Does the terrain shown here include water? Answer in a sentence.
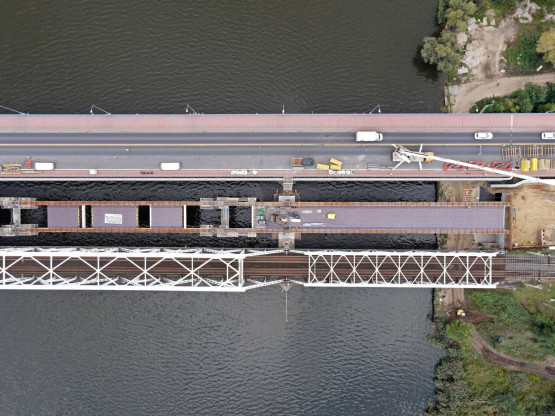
Yes, there's water in this view.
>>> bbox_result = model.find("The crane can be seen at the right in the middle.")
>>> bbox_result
[389,143,555,186]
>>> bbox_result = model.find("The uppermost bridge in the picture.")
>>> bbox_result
[0,112,555,181]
